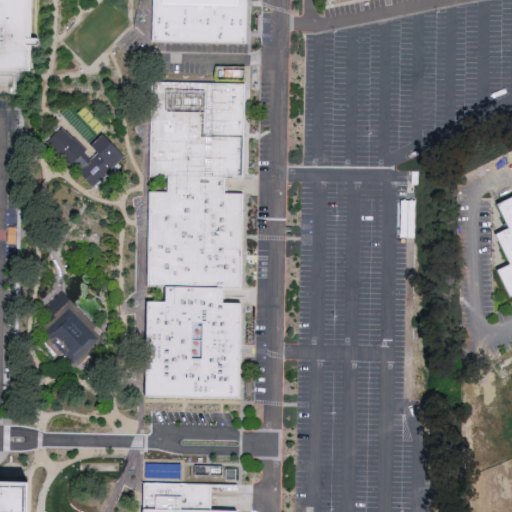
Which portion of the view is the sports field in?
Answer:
top left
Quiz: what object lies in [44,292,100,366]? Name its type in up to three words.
building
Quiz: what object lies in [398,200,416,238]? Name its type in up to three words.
shed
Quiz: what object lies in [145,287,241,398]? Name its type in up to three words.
building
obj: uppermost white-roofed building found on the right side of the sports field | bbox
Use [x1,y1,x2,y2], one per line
[152,0,248,43]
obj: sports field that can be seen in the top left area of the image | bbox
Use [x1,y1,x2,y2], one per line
[64,0,128,64]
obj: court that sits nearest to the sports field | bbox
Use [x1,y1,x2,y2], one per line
[60,104,105,142]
